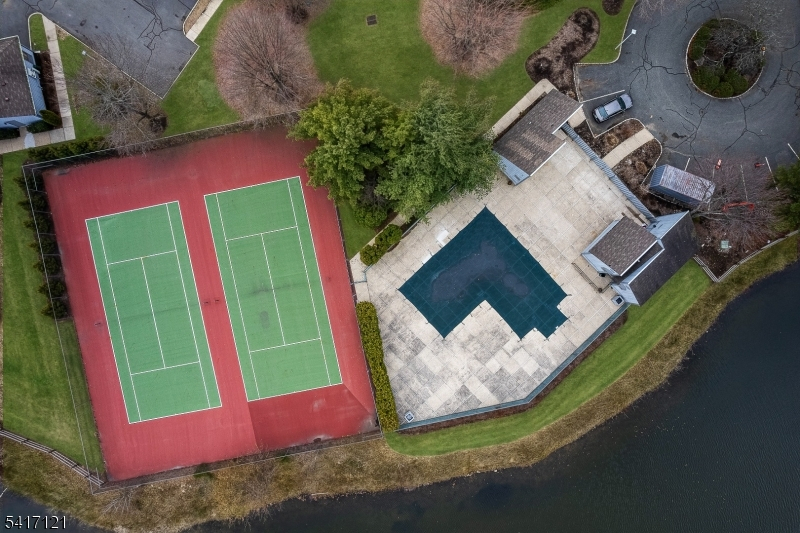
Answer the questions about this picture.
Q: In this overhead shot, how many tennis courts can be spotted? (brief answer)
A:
two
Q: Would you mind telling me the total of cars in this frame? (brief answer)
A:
1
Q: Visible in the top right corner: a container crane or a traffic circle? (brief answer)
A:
traffic circle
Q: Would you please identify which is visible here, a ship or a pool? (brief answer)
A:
pool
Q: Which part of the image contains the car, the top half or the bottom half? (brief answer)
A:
top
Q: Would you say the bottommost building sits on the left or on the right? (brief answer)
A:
right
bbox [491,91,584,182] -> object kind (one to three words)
building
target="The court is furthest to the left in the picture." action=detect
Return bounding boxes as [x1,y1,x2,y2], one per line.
[85,201,222,424]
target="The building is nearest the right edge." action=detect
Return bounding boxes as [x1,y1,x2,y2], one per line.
[584,210,699,306]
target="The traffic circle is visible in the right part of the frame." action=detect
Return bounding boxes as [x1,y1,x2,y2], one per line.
[684,16,766,98]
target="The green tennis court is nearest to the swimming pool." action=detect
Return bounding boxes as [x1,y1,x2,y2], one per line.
[204,177,342,402]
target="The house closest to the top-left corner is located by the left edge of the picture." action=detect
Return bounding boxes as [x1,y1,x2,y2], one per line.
[0,34,47,132]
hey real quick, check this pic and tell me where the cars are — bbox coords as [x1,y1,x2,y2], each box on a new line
[592,94,634,122]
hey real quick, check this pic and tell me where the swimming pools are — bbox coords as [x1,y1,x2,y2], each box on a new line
[398,204,570,342]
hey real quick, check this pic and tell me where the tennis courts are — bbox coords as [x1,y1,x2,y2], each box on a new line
[204,177,342,402]
[85,201,222,424]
